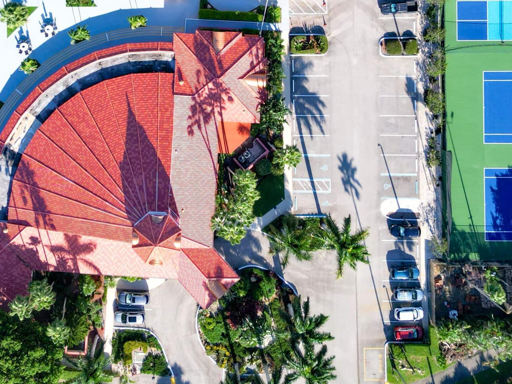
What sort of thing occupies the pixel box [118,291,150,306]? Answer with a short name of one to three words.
car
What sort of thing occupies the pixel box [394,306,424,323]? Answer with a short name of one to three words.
car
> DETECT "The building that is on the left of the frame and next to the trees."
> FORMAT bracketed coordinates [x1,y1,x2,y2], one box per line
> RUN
[0,30,268,318]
